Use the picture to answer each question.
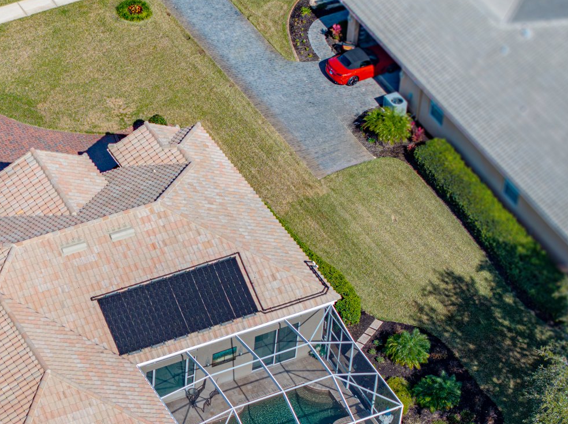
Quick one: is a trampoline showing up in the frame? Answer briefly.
No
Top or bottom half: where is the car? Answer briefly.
top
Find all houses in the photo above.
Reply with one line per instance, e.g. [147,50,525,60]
[0,115,341,424]
[341,0,568,289]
